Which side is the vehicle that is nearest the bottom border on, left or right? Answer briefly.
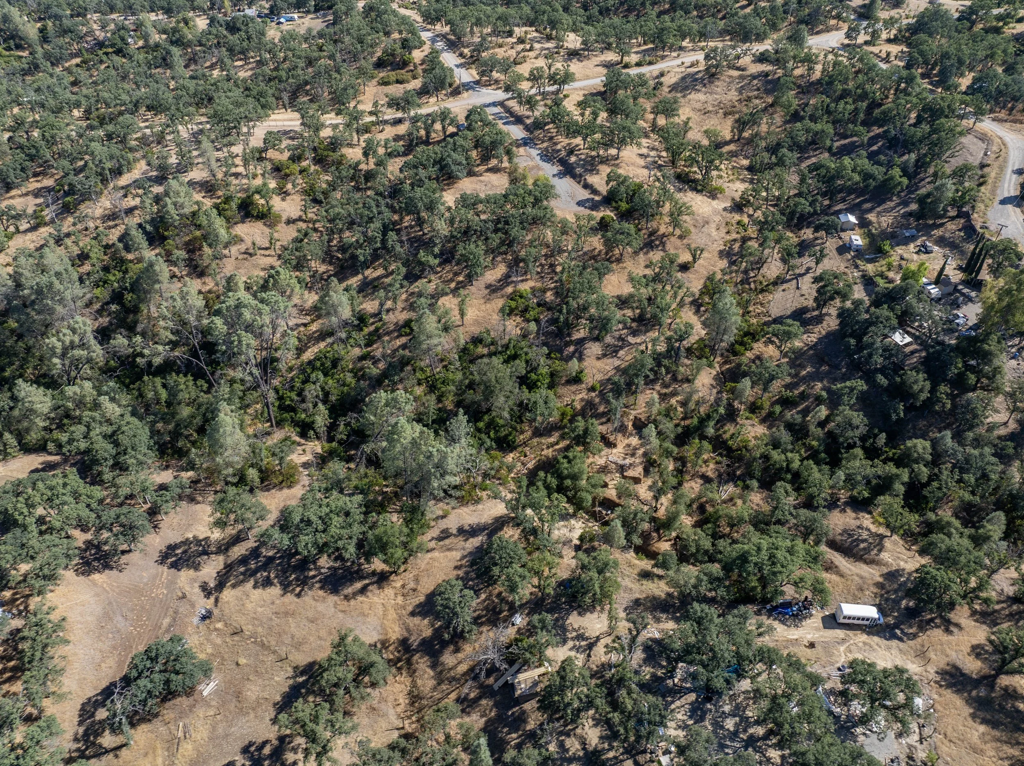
right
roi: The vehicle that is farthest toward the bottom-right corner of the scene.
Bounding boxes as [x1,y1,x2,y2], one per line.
[831,601,886,624]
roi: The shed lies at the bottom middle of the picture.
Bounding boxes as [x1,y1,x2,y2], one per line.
[515,675,540,704]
